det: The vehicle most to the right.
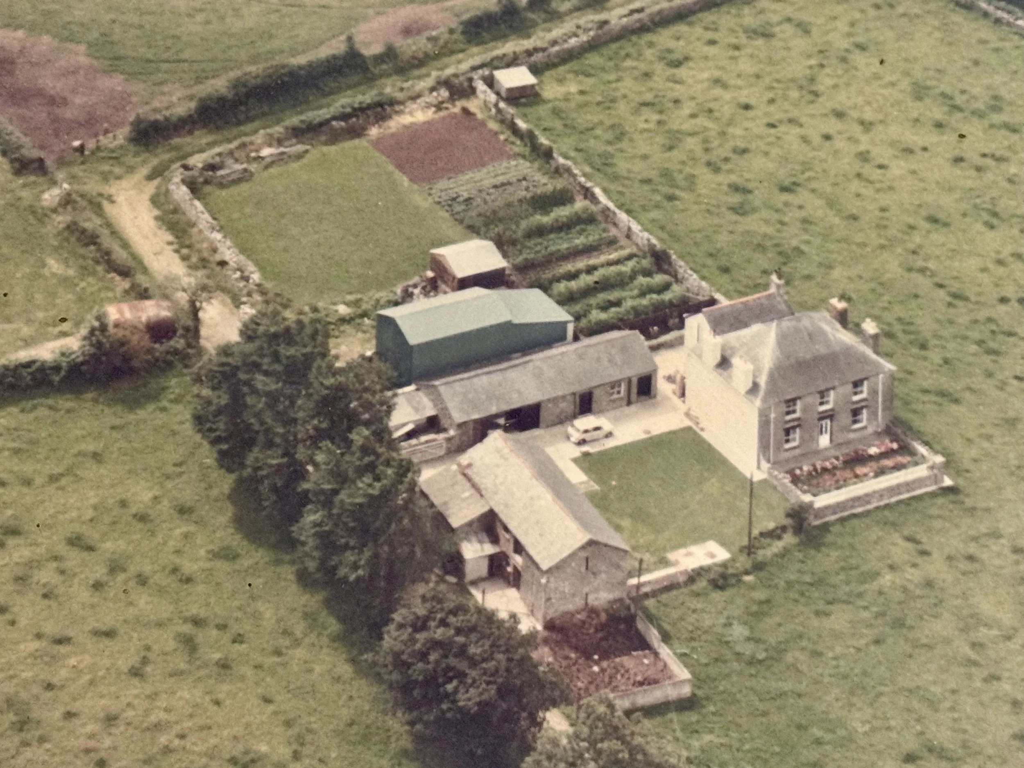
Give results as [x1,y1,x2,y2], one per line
[564,414,616,445]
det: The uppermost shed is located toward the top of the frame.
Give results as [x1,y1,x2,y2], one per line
[491,65,538,100]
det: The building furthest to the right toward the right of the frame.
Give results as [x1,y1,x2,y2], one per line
[673,269,900,468]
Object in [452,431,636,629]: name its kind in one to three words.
barn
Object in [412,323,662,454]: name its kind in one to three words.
barn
